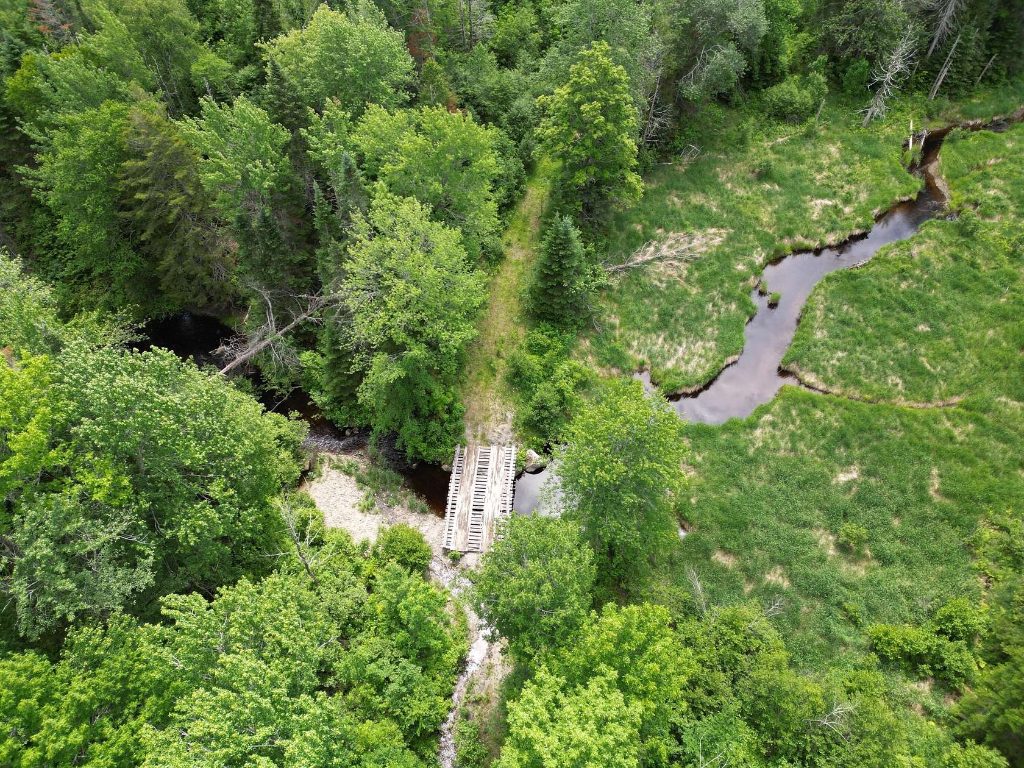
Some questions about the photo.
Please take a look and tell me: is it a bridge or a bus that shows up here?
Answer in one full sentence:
Visible in the photo is a bridge.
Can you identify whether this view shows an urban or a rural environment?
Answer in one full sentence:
From above, the setting appears rural.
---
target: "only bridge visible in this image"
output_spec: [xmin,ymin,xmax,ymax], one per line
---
[439,443,518,559]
